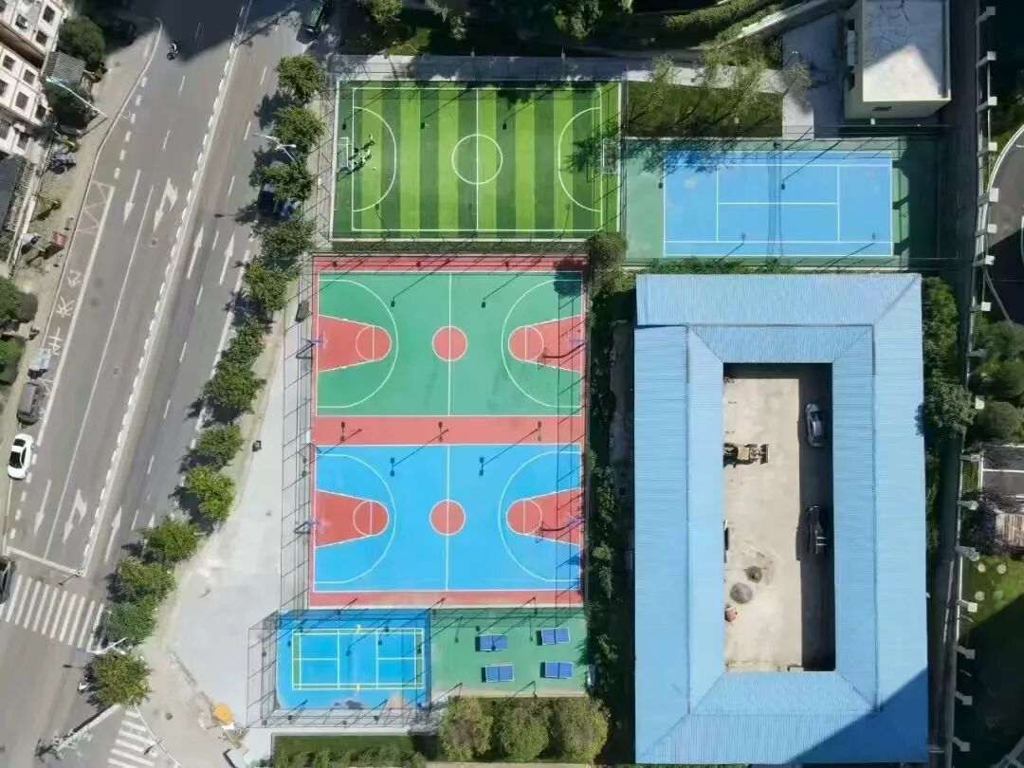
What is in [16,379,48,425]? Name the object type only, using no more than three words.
car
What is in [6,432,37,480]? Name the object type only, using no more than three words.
car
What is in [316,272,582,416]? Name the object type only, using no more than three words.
basketball court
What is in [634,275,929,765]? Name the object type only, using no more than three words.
building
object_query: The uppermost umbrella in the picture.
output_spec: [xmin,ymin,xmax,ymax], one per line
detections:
[213,700,234,722]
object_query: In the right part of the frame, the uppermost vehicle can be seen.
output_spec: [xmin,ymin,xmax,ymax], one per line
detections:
[803,400,826,445]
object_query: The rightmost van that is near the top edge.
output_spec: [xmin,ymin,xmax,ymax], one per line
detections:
[296,0,331,44]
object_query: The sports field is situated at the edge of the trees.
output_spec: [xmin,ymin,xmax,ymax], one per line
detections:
[335,81,617,237]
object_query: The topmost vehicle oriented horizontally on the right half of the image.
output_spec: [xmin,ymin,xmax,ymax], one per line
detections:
[724,444,767,463]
